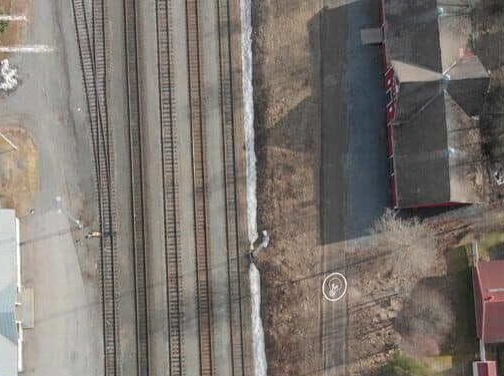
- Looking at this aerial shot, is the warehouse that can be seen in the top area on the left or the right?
right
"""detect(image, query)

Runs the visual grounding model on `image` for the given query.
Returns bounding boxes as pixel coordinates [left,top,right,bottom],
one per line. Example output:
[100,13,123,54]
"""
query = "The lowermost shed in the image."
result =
[471,361,497,376]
